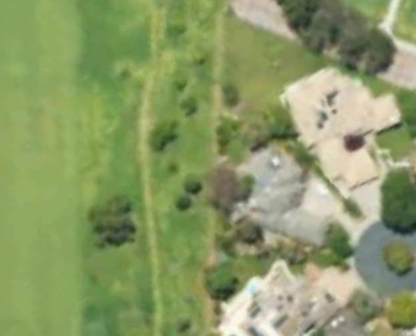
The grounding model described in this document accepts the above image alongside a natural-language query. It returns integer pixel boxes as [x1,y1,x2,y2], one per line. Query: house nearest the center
[239,149,332,245]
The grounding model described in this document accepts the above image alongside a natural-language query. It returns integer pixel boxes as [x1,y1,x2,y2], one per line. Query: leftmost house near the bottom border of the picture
[245,263,345,336]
